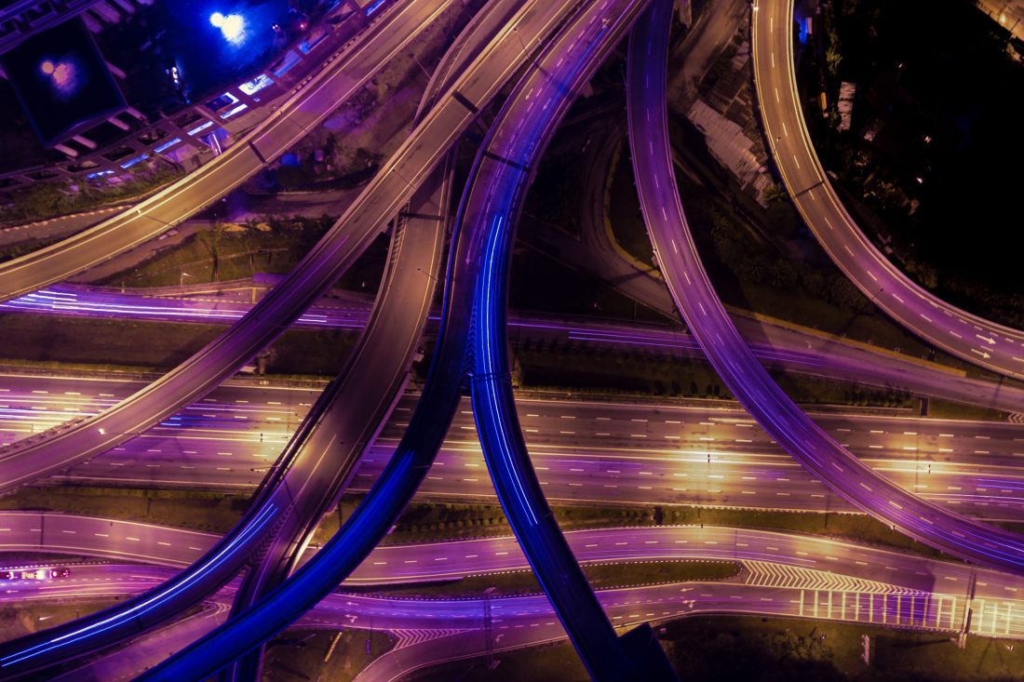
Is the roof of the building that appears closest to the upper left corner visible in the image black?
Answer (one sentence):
Yes, black is the color of the roof of the building that appears closest to the upper left corner.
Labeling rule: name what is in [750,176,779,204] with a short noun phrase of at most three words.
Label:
shed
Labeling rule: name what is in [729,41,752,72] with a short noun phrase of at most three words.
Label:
shed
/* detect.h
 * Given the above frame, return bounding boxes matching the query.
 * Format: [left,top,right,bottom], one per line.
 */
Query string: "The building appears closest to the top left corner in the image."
[0,14,133,158]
